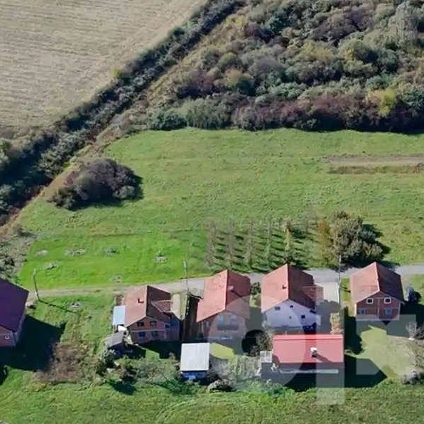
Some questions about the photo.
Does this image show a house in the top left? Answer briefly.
No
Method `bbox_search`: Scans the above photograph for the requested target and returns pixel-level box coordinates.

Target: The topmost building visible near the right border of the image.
[352,262,404,322]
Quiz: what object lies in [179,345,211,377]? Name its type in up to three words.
shed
